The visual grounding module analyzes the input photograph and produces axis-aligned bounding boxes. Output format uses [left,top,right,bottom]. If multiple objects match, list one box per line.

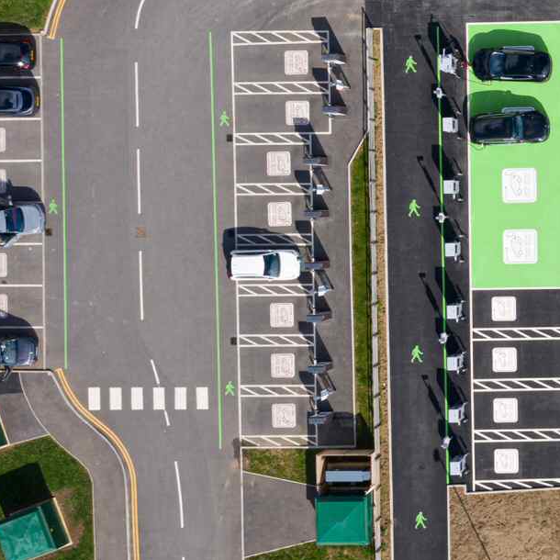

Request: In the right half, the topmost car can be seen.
[475,44,551,81]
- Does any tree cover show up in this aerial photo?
No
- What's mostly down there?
paved ground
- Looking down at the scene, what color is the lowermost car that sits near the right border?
black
